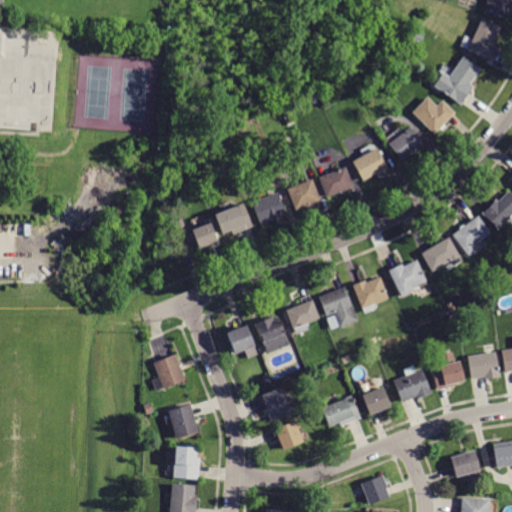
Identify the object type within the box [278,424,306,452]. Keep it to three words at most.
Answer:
house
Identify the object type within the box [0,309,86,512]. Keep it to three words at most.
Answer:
sports field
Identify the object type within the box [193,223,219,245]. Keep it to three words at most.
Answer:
building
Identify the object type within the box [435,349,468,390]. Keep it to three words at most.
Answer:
house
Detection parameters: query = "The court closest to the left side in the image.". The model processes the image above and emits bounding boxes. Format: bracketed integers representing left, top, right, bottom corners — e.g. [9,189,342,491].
[74,56,118,130]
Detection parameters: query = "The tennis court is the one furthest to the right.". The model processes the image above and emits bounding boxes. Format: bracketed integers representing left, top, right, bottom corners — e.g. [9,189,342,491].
[114,58,156,132]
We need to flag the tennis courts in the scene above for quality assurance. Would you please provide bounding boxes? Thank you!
[114,58,156,132]
[74,56,118,130]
